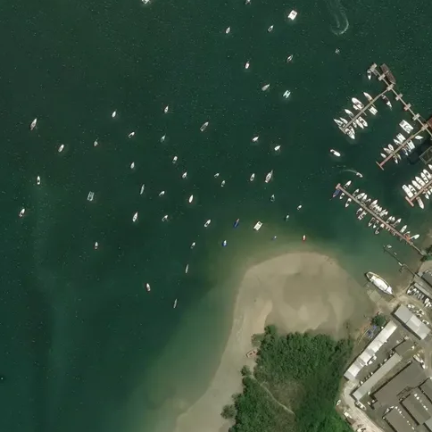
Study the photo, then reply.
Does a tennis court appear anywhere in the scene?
No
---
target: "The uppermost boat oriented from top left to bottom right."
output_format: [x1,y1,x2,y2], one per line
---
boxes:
[381,64,394,85]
